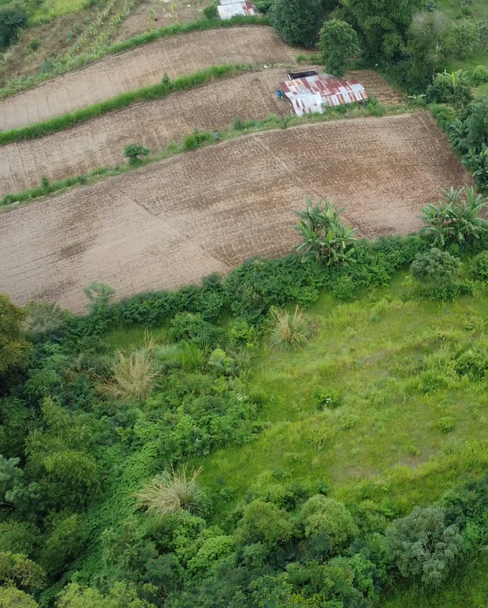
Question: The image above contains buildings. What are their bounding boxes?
[217,0,255,19]
[280,77,369,118]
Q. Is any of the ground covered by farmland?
Yes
